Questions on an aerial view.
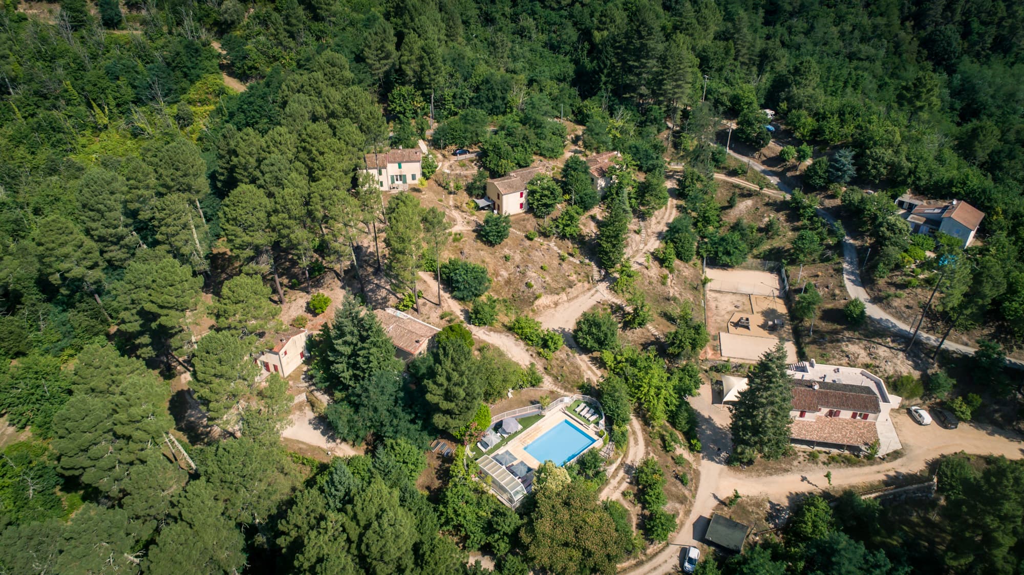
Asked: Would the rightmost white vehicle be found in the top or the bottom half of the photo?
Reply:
bottom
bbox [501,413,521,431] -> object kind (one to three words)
umbrella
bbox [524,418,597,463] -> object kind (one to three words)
swimming pool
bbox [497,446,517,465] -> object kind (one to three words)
umbrella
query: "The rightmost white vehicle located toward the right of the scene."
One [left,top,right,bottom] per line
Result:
[911,405,936,427]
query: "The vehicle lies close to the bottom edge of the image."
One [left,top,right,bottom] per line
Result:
[684,544,700,574]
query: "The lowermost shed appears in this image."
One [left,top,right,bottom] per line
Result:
[704,514,748,556]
